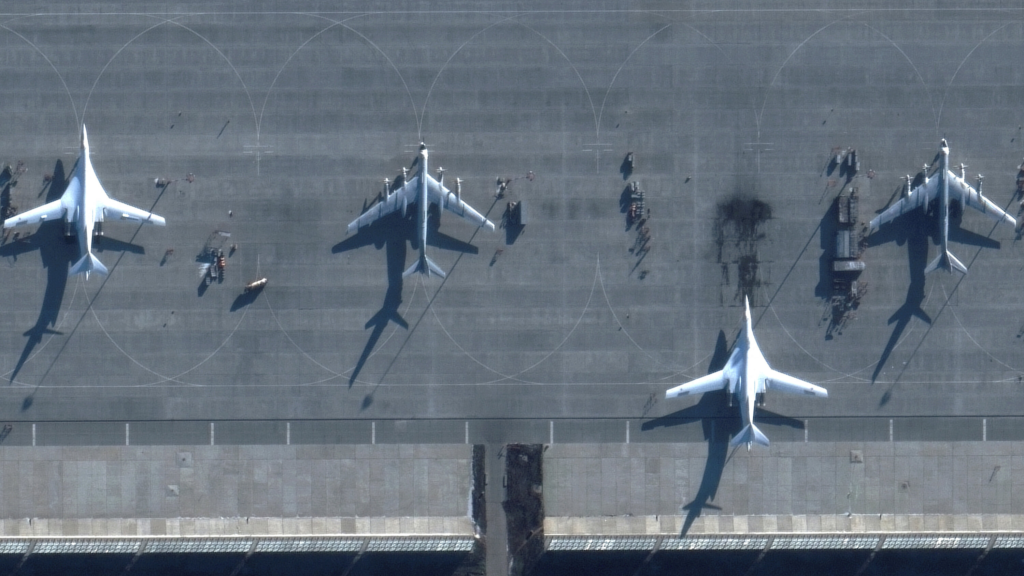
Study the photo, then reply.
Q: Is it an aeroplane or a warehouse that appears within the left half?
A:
aeroplane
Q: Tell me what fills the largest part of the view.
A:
paved ground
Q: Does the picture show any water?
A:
No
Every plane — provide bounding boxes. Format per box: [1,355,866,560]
[348,142,494,277]
[4,124,165,280]
[870,138,1016,273]
[667,295,827,452]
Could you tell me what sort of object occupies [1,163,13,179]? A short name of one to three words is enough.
vehicle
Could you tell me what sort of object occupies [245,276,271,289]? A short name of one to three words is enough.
vehicle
